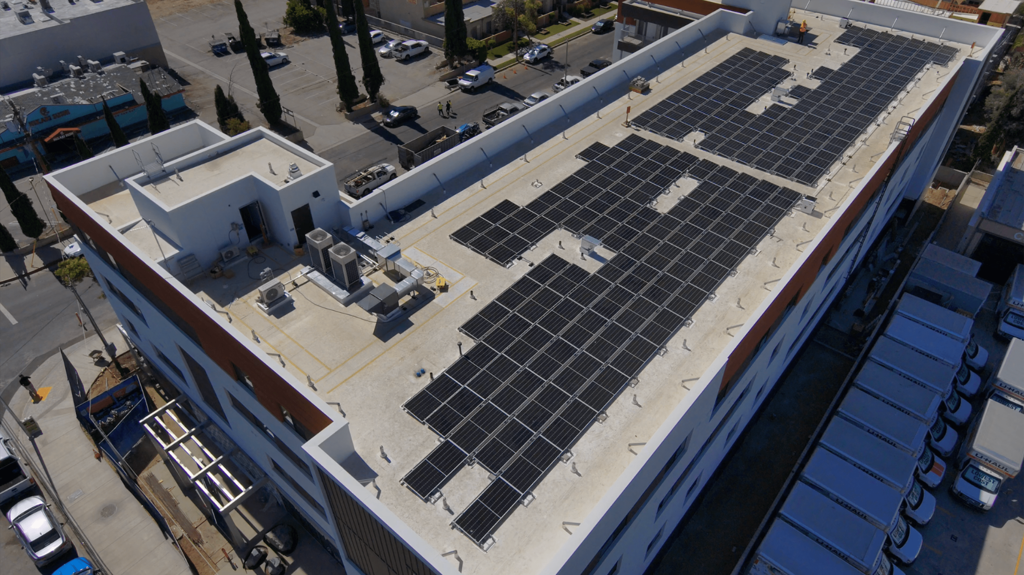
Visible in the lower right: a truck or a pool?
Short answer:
truck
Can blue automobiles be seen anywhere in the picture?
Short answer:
Yes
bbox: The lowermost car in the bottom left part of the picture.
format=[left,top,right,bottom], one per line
[48,552,99,575]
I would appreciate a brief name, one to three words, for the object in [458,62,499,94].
van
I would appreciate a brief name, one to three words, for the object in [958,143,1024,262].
building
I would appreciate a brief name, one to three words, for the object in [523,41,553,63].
car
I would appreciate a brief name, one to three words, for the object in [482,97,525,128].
truck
